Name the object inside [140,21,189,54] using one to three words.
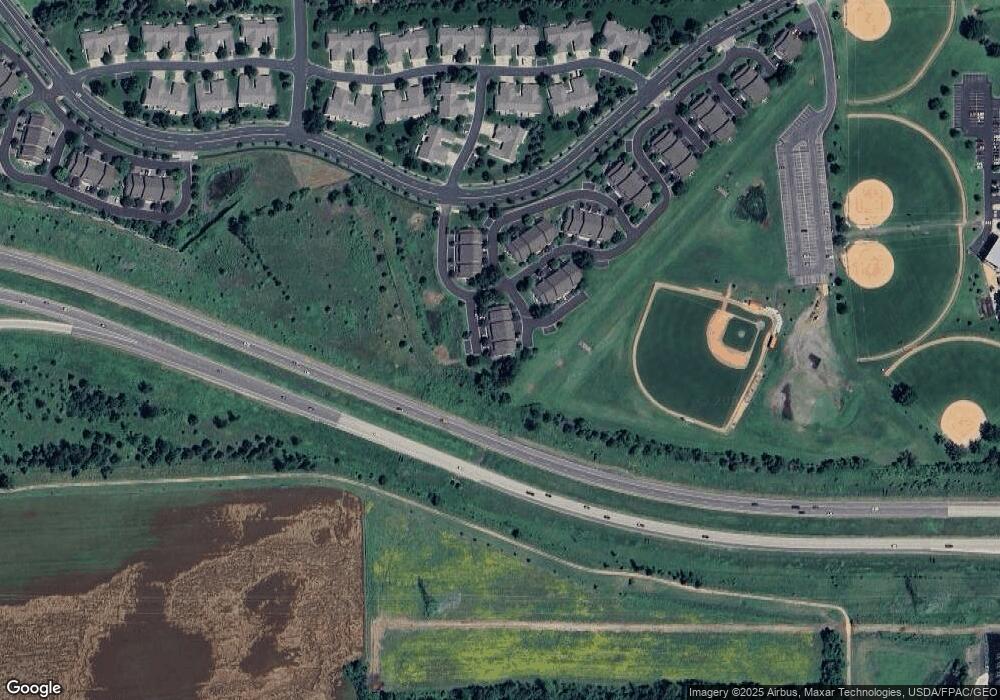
house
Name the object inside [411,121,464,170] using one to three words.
house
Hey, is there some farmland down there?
Yes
